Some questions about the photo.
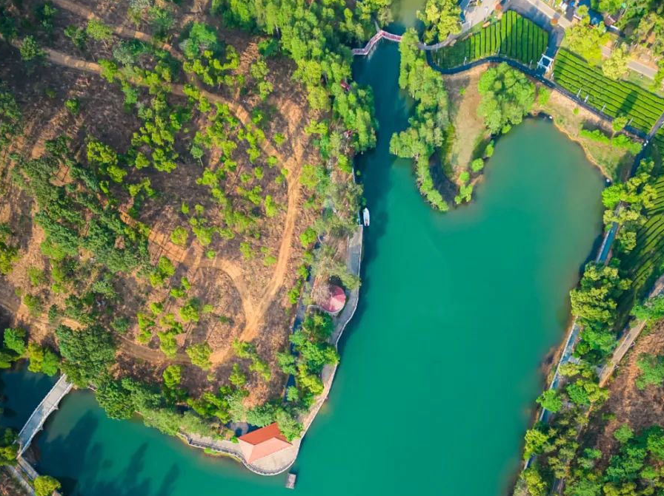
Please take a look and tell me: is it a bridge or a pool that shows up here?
bridge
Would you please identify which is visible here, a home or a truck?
home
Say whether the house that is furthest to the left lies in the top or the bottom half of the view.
bottom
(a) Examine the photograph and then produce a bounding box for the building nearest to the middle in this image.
[317,284,347,315]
